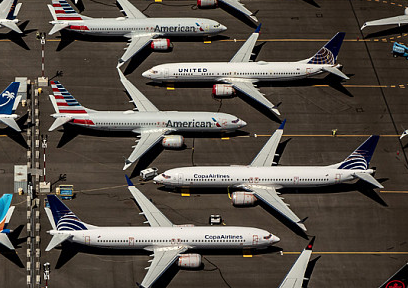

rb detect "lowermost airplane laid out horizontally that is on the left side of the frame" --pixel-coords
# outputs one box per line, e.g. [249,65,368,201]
[44,171,279,288]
